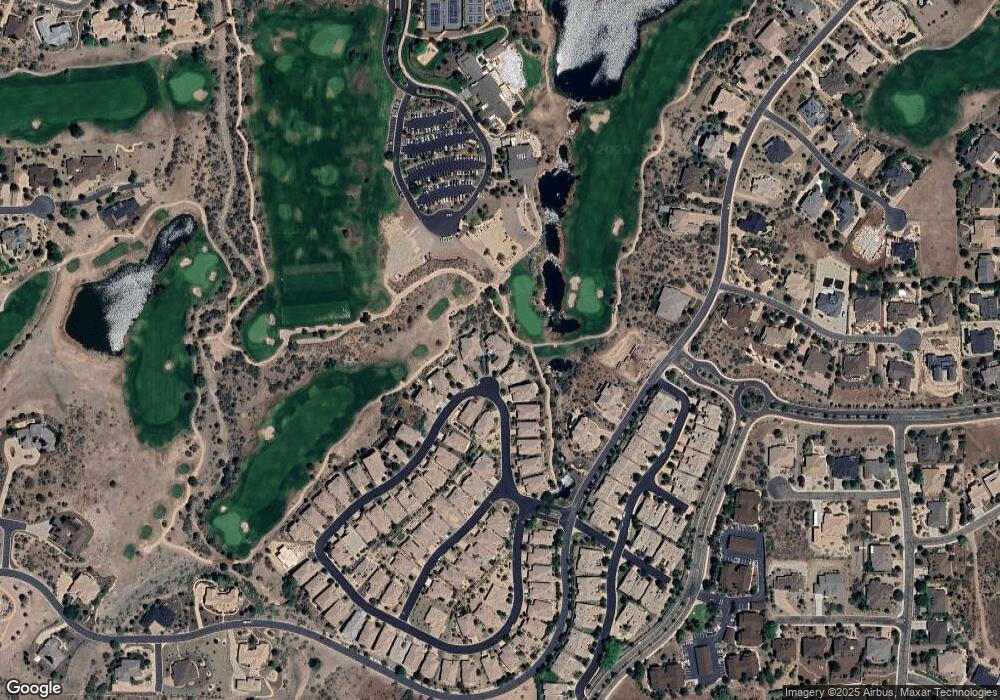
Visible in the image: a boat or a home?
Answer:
home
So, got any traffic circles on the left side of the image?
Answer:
No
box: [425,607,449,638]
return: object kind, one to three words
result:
house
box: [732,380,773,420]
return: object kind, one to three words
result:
roundabout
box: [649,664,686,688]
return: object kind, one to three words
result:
building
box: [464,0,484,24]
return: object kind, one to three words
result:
sports court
